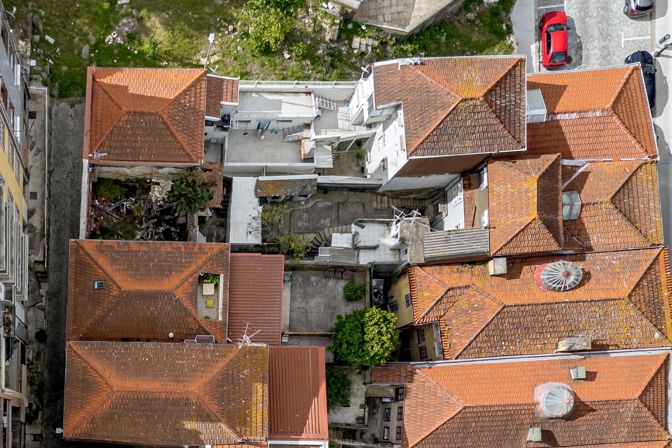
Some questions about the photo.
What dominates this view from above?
buildings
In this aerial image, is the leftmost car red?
Yes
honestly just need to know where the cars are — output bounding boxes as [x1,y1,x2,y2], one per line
[538,16,569,70]
[622,0,656,23]
[626,56,659,115]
